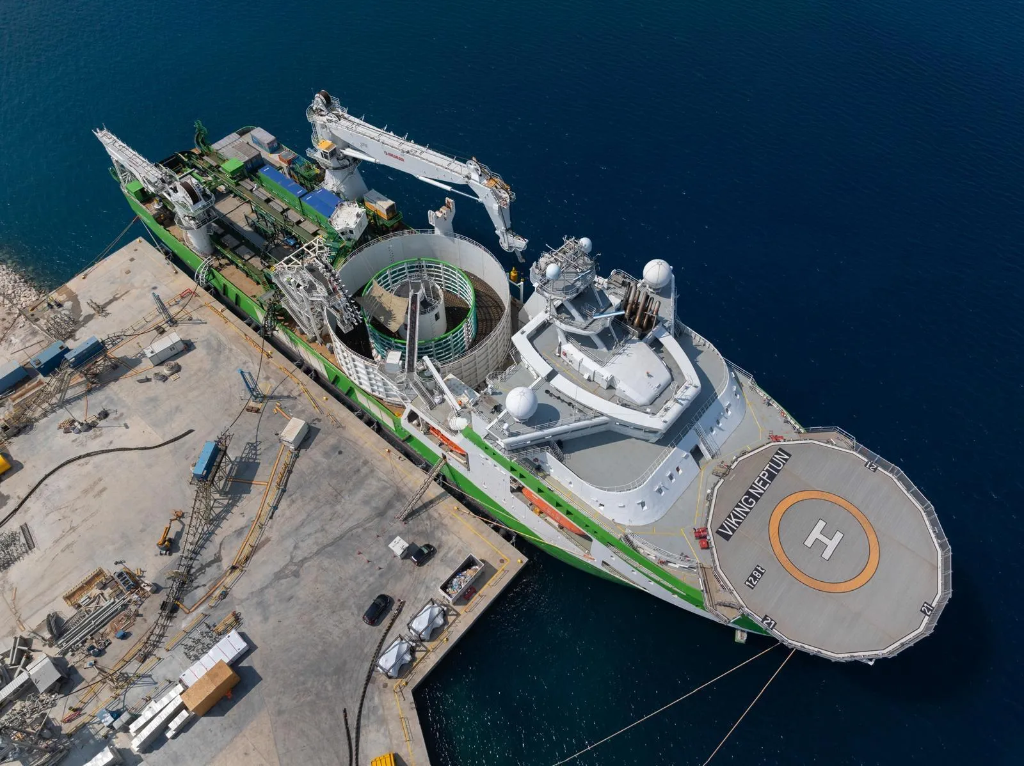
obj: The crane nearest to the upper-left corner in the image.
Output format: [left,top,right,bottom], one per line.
[89,126,216,256]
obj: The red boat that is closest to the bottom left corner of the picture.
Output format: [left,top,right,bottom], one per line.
[431,427,467,459]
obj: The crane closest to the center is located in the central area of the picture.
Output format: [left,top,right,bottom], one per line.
[425,357,467,433]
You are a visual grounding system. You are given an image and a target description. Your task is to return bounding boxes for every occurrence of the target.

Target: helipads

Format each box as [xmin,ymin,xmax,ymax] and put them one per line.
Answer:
[688,422,954,666]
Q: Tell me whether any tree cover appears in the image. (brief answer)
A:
No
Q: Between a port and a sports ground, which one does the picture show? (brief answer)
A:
port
